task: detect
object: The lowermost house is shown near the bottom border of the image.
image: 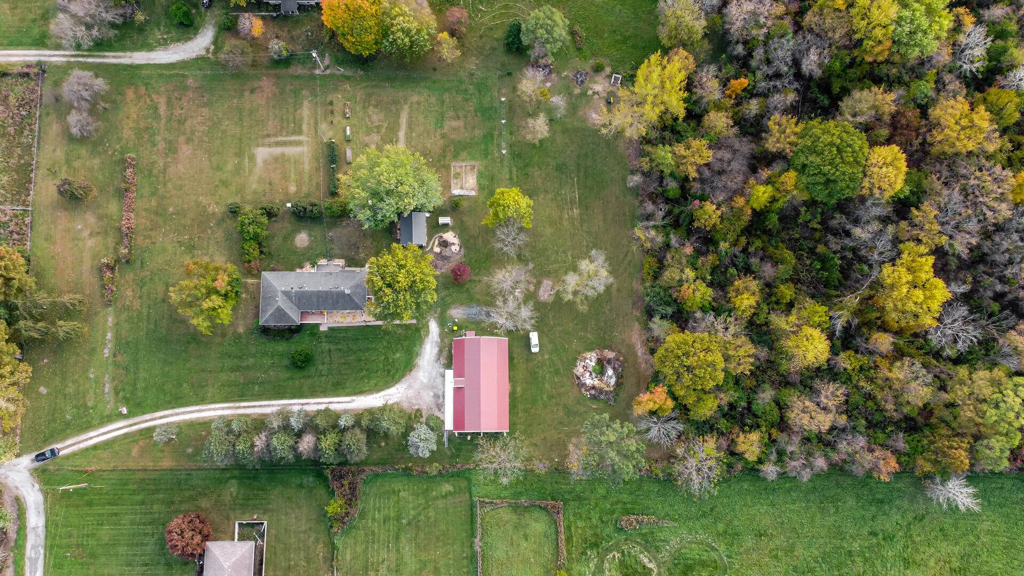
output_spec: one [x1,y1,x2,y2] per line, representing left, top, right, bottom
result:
[202,540,255,576]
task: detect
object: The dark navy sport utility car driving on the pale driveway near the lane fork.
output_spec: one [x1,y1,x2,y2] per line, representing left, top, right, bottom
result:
[34,445,62,464]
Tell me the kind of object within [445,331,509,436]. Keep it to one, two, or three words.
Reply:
barn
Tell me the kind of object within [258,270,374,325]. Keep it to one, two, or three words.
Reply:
house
